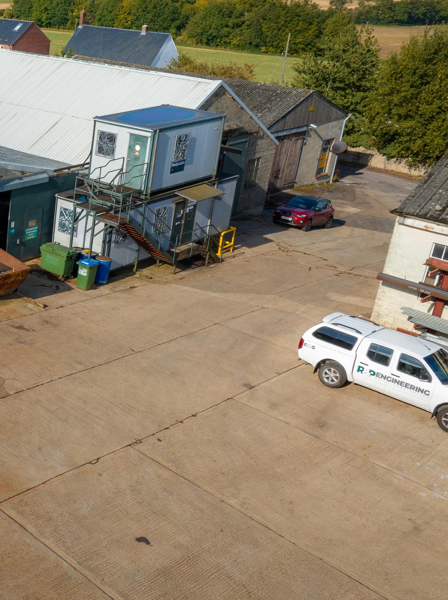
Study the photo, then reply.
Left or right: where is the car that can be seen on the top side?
right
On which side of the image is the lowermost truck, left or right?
right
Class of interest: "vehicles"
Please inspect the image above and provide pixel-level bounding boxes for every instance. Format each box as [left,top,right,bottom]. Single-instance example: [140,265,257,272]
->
[274,194,338,231]
[292,308,448,435]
